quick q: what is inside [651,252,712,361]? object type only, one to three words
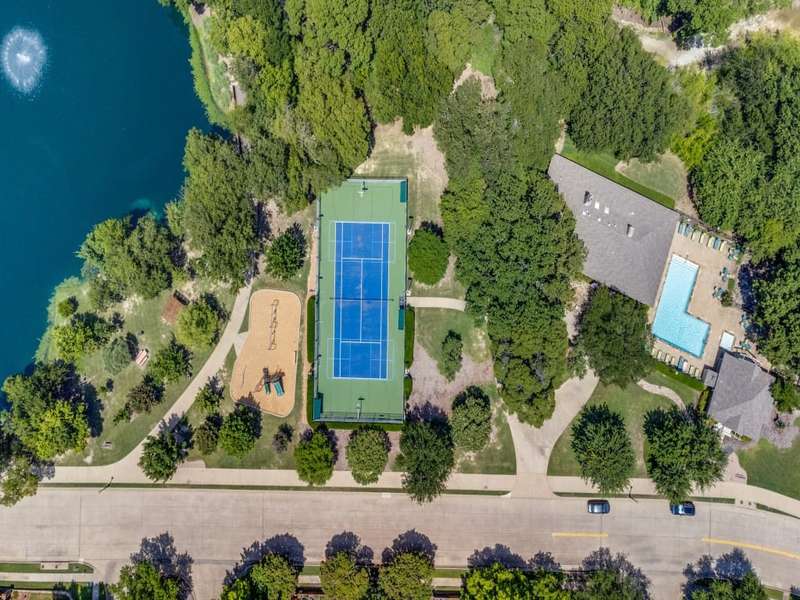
swimming pool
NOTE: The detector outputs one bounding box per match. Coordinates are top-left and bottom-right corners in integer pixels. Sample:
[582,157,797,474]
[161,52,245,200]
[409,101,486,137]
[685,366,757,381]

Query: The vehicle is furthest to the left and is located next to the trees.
[587,499,609,515]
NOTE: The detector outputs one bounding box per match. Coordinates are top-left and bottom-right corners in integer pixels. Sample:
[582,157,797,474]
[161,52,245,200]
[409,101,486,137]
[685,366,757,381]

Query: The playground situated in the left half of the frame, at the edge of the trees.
[230,288,302,418]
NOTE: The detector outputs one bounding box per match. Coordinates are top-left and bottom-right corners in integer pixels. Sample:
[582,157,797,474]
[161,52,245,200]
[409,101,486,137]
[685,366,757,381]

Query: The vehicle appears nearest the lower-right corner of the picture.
[669,500,693,515]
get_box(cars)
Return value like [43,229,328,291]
[669,500,693,515]
[587,499,609,515]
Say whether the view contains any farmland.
No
